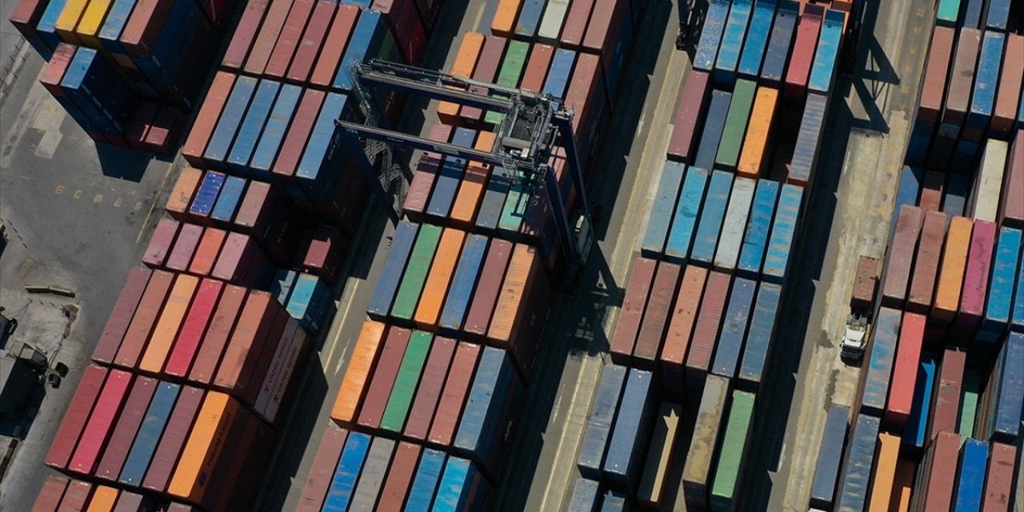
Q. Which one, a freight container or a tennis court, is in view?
freight container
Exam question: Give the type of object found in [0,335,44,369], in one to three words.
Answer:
trailer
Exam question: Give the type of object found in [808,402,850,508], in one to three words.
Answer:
shipping container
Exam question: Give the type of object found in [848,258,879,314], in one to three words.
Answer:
shipping container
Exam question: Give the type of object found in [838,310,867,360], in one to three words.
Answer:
truck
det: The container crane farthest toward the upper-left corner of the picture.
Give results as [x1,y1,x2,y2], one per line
[330,47,601,299]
